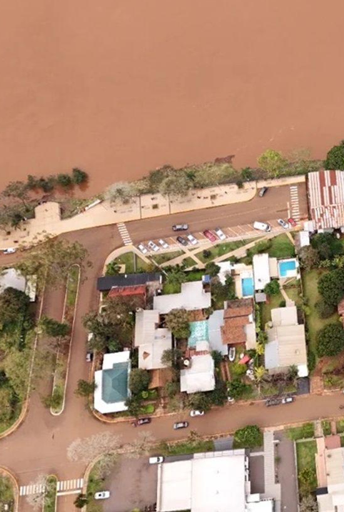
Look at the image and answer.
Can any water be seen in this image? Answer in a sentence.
Yes, water shows up in the scene.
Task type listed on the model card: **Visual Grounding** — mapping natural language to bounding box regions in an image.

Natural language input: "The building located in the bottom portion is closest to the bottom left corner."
[94,350,133,415]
